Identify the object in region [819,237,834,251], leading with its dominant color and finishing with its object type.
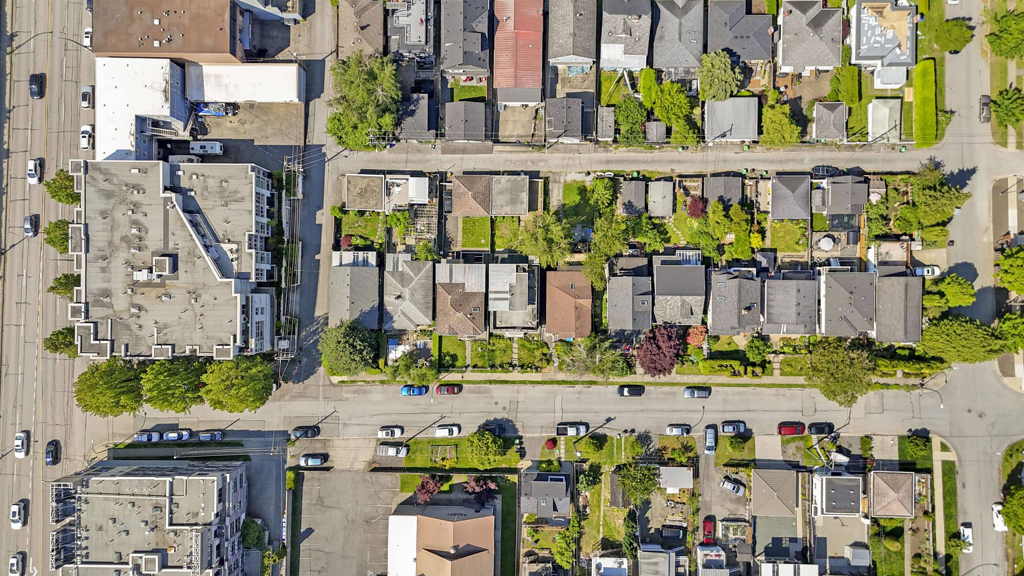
white umbrella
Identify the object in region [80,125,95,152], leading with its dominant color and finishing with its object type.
white car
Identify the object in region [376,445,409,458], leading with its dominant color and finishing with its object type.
white vehicle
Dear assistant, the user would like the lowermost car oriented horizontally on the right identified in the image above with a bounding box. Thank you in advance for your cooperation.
[659,525,688,539]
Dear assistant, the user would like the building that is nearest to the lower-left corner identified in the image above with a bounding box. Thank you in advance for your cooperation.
[50,457,250,576]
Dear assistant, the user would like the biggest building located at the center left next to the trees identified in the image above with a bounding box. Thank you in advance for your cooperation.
[68,159,280,360]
